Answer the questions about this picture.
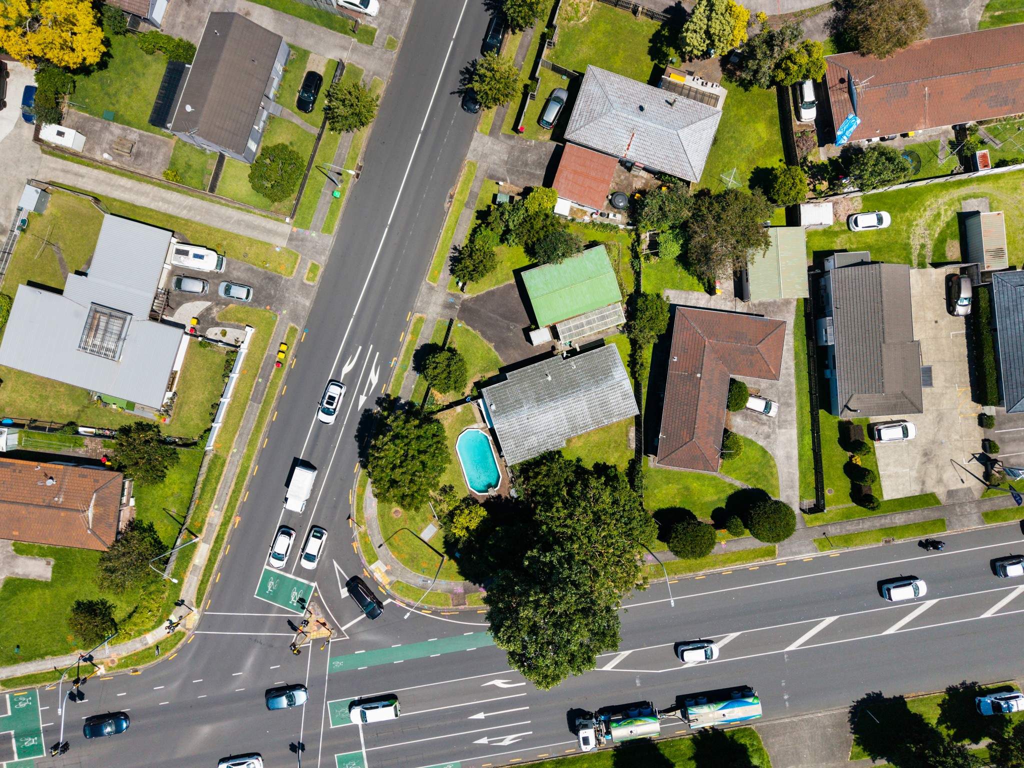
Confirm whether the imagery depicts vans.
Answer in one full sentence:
Yes, looking at the shot, I can spot a van.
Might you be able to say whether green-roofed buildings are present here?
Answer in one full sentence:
Yes, looking at the shot, I can spot a green-roofed building.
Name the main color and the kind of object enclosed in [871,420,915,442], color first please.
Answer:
white car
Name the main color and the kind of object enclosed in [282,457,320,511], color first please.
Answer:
white truck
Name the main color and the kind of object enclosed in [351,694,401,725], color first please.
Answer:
white van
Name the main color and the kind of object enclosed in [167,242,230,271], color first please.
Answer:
white camper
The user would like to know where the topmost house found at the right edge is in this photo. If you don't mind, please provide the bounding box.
[818,23,1024,147]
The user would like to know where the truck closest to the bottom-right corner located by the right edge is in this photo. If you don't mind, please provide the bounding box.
[976,688,1024,718]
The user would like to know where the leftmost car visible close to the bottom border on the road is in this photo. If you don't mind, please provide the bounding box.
[84,710,133,738]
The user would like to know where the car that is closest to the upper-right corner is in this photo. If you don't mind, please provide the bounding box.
[795,79,820,124]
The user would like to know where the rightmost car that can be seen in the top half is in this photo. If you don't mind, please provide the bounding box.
[948,275,973,317]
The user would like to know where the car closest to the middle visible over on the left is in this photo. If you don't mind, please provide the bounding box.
[317,379,348,425]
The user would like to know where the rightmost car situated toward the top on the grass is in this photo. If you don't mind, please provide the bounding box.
[846,209,890,233]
